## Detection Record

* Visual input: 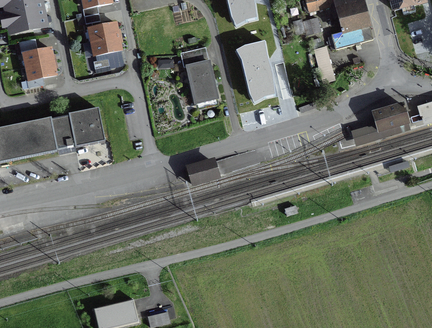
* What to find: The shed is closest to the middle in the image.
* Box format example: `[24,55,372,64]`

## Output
[186,157,221,184]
